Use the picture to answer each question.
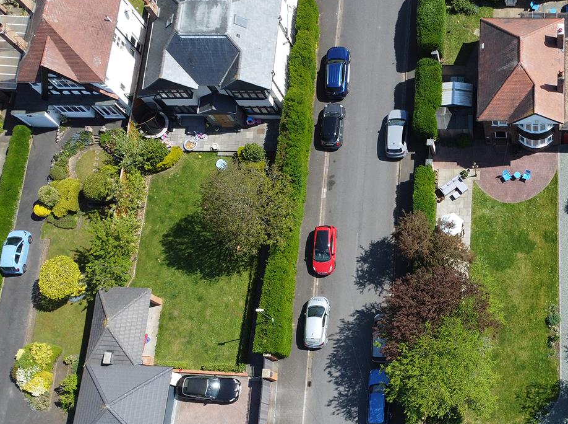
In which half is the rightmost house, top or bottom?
top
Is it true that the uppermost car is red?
No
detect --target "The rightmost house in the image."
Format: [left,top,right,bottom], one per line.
[476,13,568,154]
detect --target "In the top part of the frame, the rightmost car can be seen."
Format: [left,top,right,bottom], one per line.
[382,111,408,160]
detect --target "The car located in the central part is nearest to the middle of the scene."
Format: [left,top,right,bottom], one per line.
[308,225,340,278]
